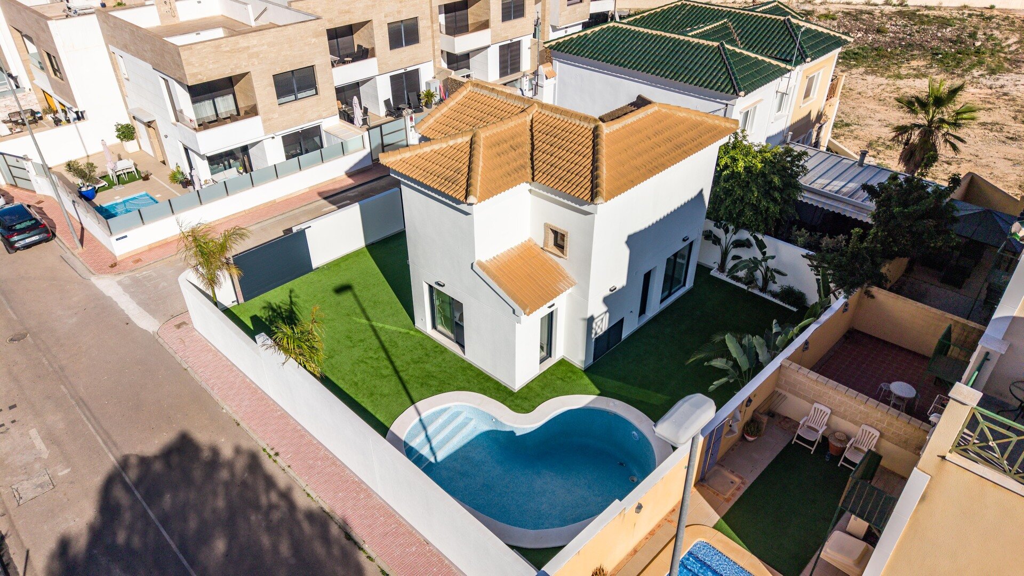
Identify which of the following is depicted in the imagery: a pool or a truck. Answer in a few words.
pool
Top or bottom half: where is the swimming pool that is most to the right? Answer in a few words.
bottom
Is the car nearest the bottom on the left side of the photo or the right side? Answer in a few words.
left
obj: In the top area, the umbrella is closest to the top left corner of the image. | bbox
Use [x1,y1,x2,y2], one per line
[98,140,127,191]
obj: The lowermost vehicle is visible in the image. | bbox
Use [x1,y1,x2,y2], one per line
[0,197,50,252]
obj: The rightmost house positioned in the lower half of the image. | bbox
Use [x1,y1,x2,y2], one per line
[859,197,1024,576]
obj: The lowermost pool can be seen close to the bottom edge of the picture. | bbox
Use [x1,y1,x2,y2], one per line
[673,524,776,576]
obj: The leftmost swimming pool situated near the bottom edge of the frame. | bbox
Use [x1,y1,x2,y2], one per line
[387,392,670,549]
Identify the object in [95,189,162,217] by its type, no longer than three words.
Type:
swimming pool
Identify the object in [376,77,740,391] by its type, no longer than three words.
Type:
house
